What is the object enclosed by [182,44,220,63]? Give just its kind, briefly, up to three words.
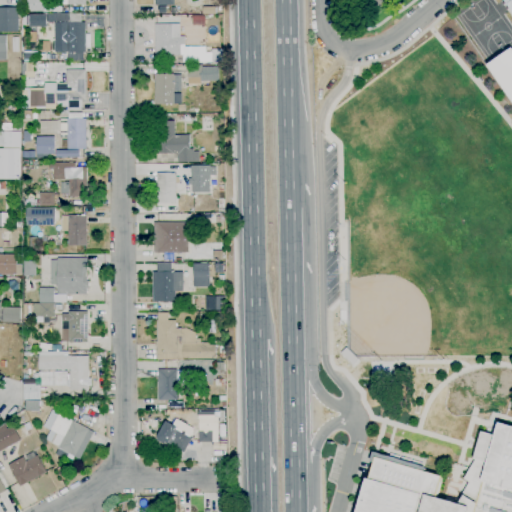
house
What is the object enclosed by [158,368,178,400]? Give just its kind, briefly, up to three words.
house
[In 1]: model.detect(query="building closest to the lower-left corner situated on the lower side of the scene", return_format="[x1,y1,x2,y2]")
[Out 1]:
[8,450,46,487]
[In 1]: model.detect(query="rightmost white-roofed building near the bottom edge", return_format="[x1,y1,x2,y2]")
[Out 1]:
[459,420,512,512]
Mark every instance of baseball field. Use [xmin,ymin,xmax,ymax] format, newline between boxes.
[332,40,512,358]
